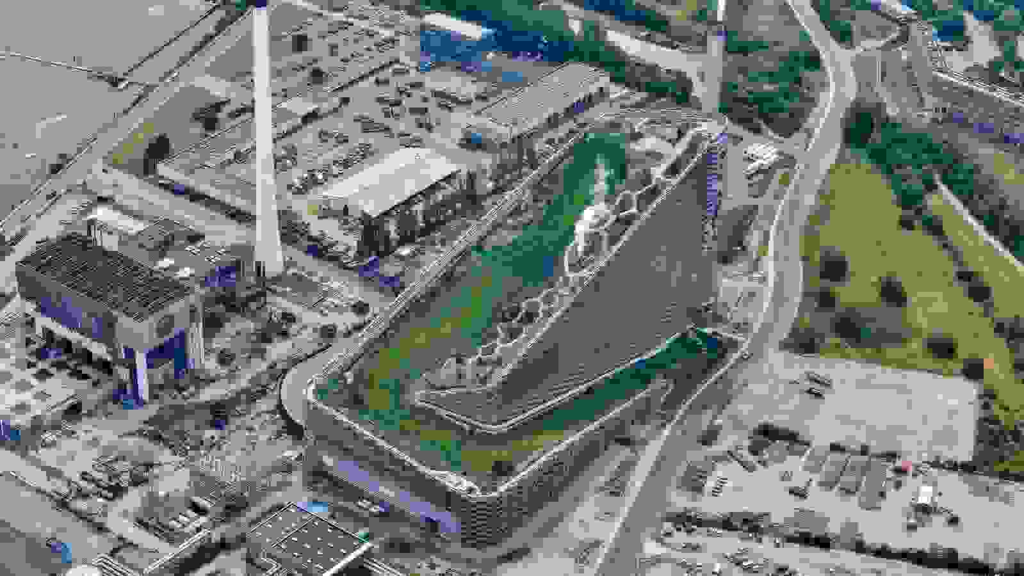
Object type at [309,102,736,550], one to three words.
building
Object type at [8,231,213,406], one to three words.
building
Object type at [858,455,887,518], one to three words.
shed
